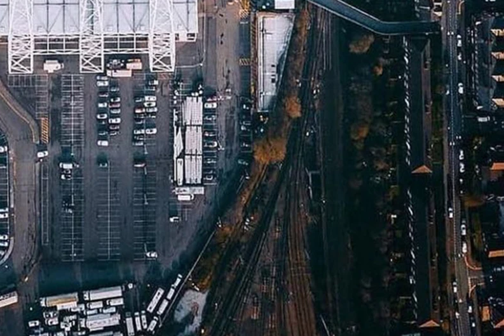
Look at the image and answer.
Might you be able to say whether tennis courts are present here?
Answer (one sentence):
No, no tennis court can be seen from above.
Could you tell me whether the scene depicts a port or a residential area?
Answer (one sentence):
What you see here is a residential area.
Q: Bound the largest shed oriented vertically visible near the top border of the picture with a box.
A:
[255,9,293,113]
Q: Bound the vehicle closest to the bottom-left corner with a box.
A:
[0,291,19,307]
